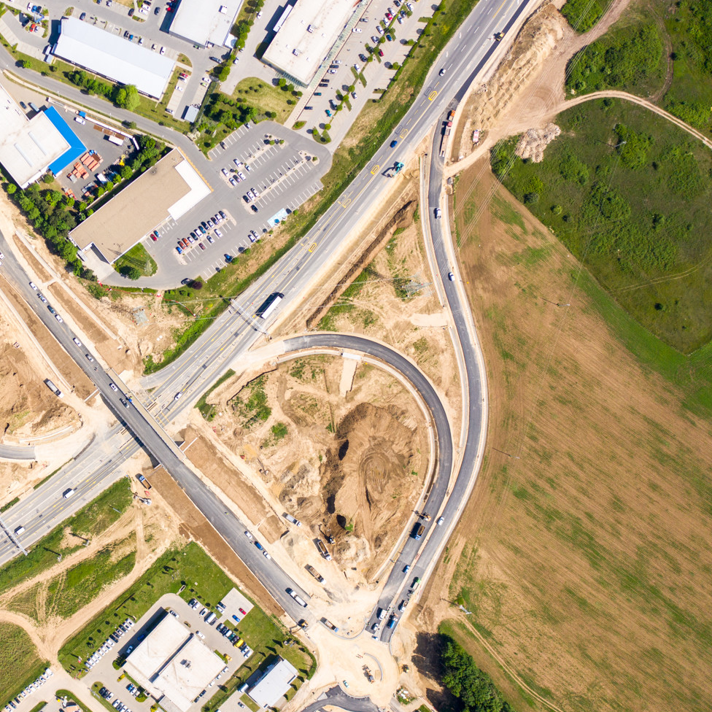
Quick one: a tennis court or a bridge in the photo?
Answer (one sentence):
I can see a bridge in this picture.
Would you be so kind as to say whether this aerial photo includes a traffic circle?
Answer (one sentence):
Yes, the picture does show a traffic circle.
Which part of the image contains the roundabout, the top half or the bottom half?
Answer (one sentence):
The bottom half of the photo is where the roundabout is.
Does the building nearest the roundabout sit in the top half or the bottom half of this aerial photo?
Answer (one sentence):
Seen from above, the building nearest the roundabout lies in the bottom half of the view.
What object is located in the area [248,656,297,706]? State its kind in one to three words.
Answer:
building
